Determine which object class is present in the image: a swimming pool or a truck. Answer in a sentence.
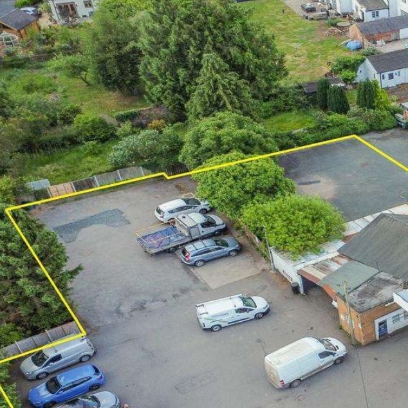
This aerial view contains a truck.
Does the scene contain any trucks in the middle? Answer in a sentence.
Yes, looking in the middle, one can make out a truck.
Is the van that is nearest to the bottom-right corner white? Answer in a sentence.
Yes, white is the color of the van that is nearest to the bottom-right corner.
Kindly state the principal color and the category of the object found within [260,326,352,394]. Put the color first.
white van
